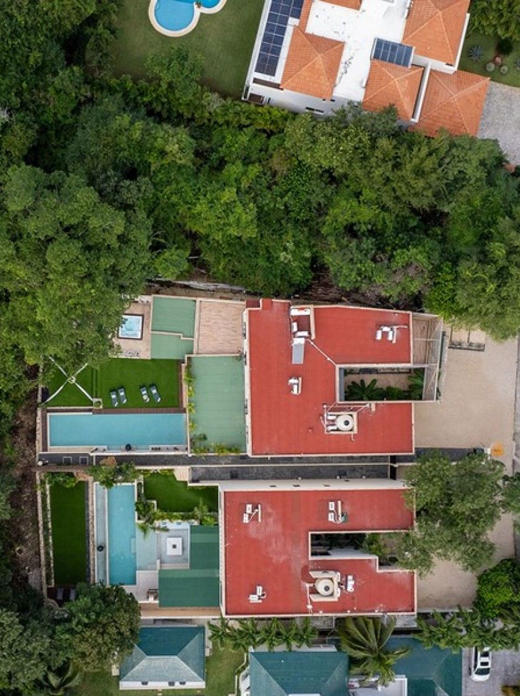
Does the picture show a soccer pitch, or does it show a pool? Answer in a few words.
pool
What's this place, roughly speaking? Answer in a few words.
residential area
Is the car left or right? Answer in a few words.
right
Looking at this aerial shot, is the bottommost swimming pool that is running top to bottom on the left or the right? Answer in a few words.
left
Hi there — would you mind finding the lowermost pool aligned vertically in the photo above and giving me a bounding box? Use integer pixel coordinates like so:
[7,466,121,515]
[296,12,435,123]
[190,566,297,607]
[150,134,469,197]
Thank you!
[106,482,138,587]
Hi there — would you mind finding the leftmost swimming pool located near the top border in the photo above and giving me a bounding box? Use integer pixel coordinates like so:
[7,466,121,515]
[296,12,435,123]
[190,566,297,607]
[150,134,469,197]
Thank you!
[149,0,202,38]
